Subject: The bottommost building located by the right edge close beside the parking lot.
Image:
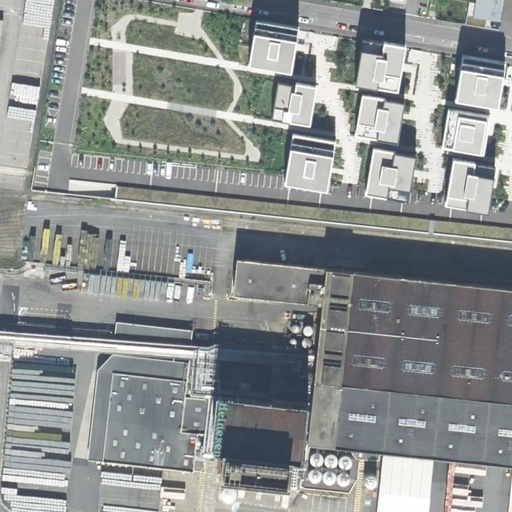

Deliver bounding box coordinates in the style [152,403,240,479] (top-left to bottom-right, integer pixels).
[336,275,512,468]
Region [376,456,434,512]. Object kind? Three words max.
building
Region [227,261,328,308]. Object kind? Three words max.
shed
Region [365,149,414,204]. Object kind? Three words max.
building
